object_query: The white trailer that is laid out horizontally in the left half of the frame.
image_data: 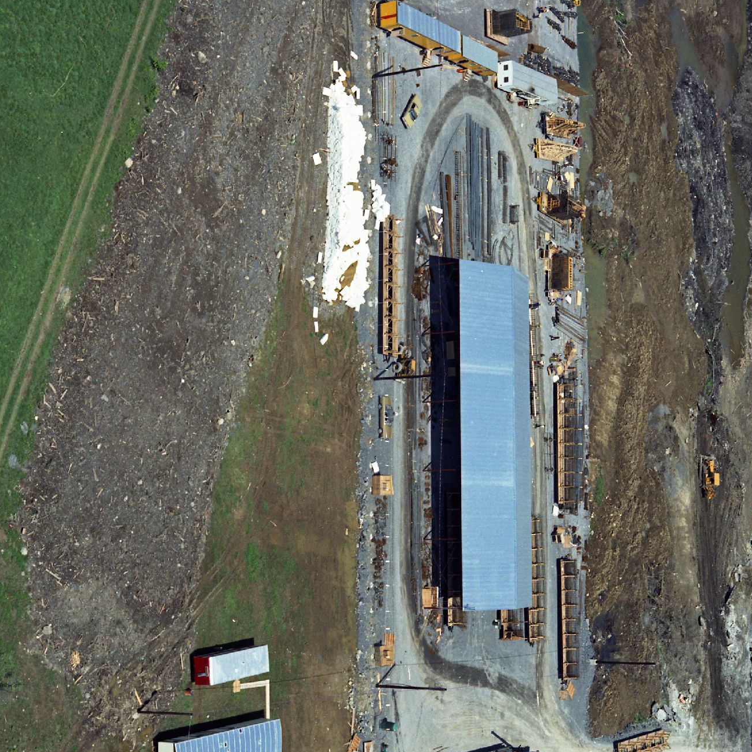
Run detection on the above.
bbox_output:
[196,645,270,685]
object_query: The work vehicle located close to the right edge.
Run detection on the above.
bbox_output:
[702,461,721,498]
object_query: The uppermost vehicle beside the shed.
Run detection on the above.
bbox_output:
[398,341,425,383]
